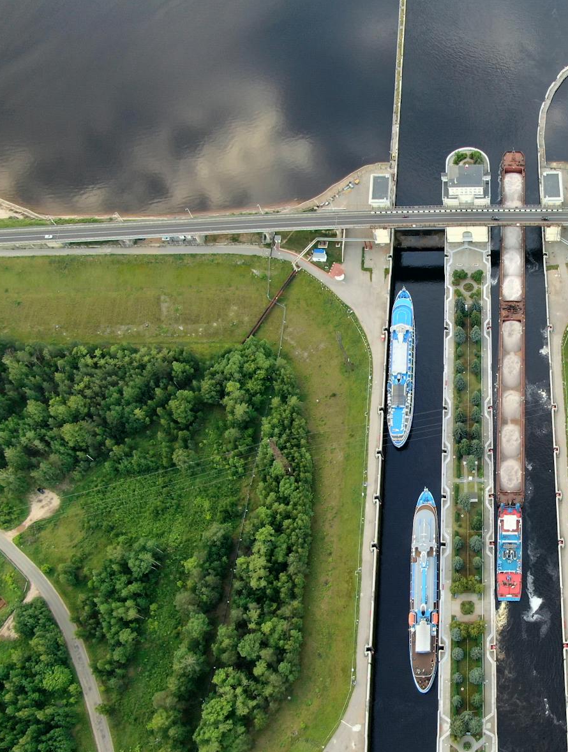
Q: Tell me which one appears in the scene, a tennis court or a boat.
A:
boat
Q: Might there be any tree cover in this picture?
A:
Yes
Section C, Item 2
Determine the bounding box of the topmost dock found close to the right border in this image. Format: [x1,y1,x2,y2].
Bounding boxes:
[539,63,568,173]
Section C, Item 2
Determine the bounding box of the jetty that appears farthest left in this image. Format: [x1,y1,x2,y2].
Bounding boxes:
[391,0,404,172]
